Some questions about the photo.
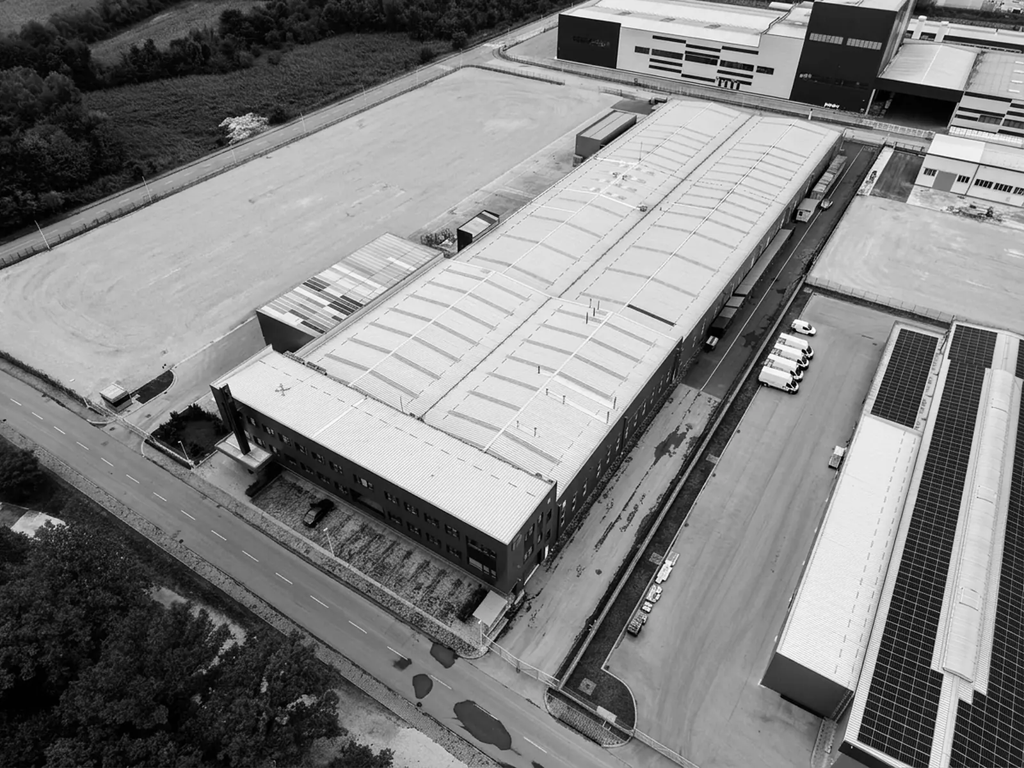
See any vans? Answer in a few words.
Yes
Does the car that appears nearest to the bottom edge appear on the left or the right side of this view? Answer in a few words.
left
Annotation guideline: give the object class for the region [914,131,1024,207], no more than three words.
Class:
building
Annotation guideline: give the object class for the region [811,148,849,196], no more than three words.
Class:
trailer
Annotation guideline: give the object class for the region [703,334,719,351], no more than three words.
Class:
vehicle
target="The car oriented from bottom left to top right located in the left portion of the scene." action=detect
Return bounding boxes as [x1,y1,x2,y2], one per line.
[298,497,333,526]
